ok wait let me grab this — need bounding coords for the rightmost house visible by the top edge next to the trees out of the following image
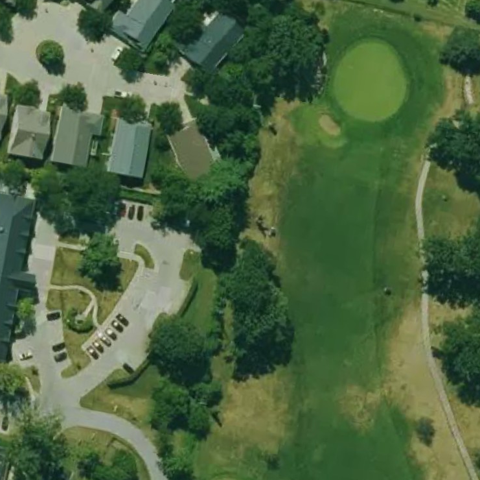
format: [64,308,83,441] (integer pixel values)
[182,11,243,73]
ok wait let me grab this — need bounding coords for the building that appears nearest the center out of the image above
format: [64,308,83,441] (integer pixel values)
[168,123,213,178]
